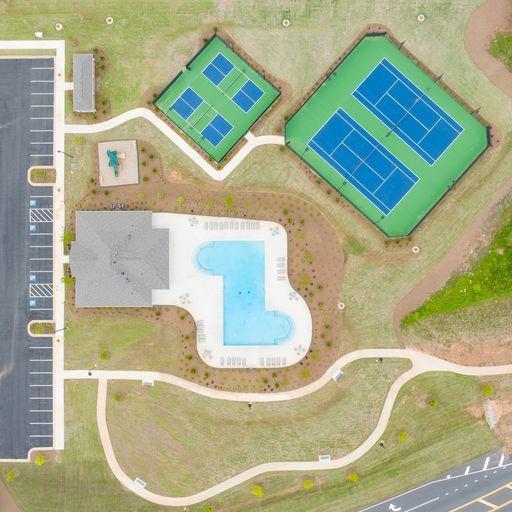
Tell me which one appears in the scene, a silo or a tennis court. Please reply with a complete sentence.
There is a tennis court in the scene.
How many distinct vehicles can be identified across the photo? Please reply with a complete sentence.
There are no vehicles in this view.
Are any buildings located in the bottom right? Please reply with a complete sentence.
No, no building appears in the bottom right.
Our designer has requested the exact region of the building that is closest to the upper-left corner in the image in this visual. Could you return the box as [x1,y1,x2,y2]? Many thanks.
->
[72,54,96,114]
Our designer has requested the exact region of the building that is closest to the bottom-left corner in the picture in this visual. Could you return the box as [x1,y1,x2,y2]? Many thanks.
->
[68,211,170,306]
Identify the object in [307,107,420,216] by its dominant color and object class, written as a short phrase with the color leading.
blue tennis court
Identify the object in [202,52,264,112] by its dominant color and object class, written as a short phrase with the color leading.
blue sports court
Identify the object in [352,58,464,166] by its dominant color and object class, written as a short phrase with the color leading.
blue tennis court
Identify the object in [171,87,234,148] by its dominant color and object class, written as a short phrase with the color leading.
blue sports court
